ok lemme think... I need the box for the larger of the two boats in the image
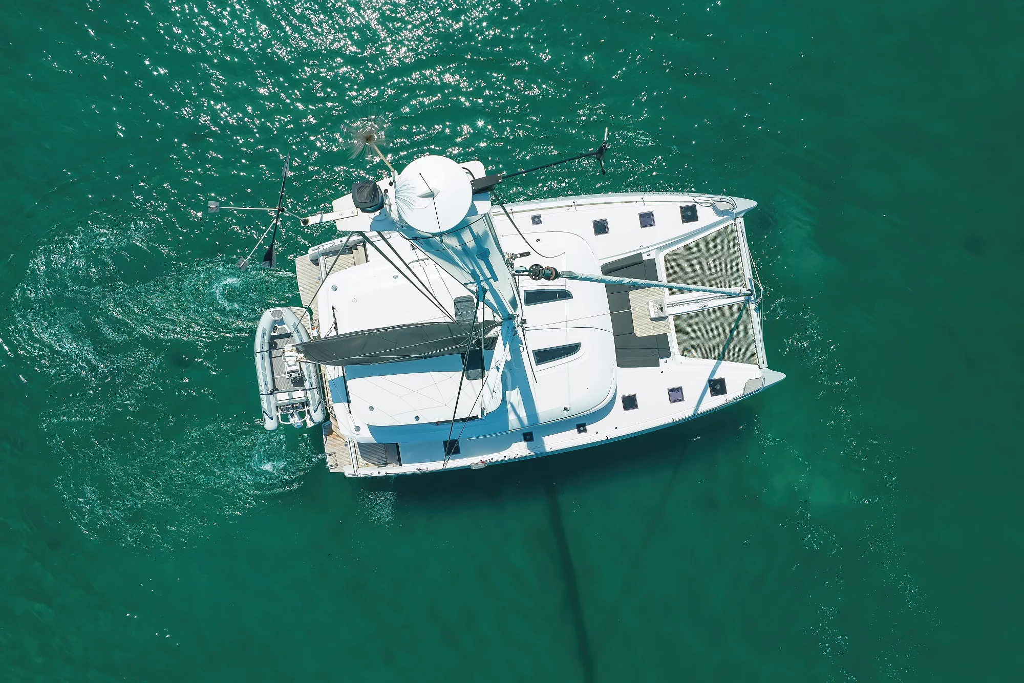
[208,114,785,478]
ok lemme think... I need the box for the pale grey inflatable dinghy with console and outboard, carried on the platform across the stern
[253,305,324,429]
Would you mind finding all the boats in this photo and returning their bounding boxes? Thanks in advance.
[208,114,785,478]
[253,305,324,429]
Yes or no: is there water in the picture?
Yes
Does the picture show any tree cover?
No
